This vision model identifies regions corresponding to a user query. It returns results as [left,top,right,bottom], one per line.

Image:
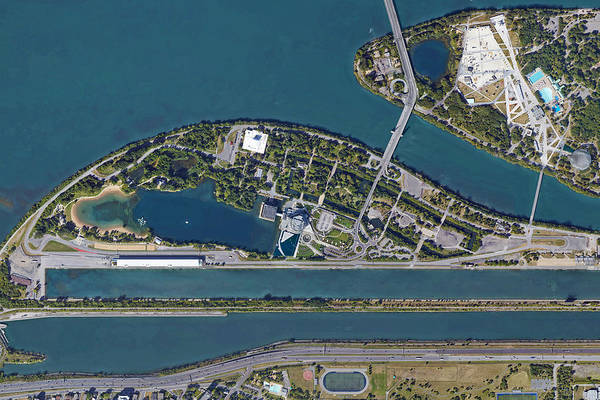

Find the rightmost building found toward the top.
[571,149,593,170]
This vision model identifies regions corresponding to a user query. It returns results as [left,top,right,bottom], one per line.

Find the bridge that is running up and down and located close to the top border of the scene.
[382,0,415,155]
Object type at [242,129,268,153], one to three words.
building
